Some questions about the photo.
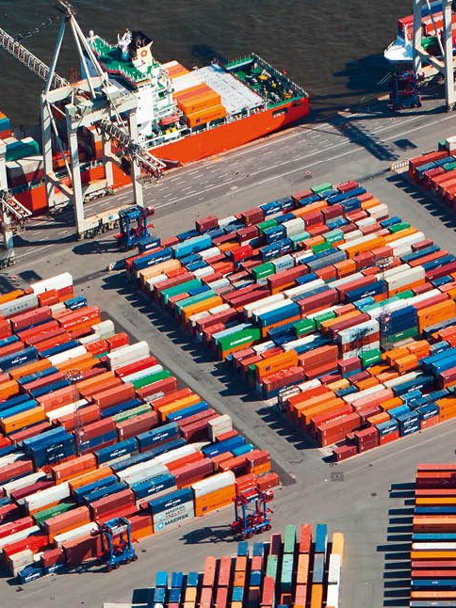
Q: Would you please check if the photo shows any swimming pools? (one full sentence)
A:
No, the photo shows no swimming pool.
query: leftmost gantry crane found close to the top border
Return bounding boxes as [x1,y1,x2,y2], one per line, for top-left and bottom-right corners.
[0,0,173,240]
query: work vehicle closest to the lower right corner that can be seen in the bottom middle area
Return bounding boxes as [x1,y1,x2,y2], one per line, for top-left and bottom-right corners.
[237,478,286,537]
